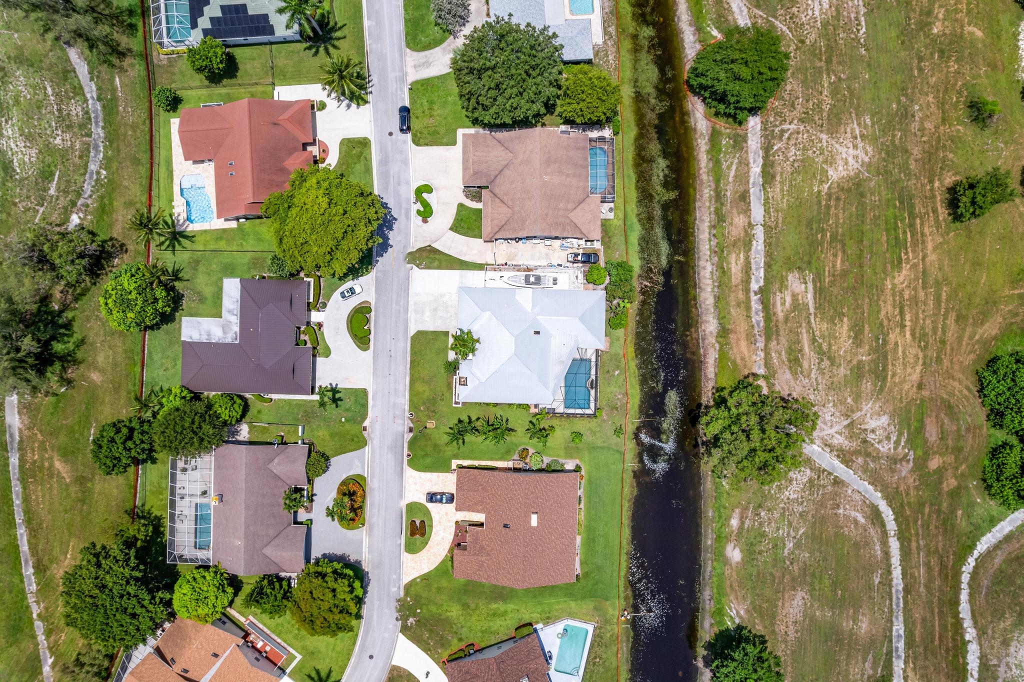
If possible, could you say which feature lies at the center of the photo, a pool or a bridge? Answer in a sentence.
Visible at the center of the photo is a pool.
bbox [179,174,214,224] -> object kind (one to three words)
swimming pool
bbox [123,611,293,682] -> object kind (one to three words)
house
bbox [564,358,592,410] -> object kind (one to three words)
swimming pool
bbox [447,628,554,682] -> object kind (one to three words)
house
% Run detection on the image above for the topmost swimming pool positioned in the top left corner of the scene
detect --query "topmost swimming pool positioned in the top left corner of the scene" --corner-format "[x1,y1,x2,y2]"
[165,0,191,43]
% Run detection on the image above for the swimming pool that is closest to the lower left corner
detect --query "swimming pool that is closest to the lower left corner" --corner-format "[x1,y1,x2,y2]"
[194,502,212,550]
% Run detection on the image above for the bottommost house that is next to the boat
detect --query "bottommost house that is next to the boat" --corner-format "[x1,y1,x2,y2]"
[457,286,606,404]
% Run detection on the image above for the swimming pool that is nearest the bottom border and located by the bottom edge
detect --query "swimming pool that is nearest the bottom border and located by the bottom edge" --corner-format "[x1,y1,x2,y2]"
[552,622,590,677]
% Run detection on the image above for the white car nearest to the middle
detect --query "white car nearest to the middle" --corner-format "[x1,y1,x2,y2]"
[337,283,365,301]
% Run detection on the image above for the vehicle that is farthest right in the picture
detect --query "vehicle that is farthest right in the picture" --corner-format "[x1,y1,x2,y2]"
[567,251,599,265]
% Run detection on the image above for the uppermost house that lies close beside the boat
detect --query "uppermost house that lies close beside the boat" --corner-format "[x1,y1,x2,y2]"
[462,128,601,241]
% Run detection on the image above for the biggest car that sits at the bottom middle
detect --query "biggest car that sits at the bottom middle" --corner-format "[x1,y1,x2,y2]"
[426,491,454,505]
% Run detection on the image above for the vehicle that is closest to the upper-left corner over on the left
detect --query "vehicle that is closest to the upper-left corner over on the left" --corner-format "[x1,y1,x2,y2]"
[397,105,411,134]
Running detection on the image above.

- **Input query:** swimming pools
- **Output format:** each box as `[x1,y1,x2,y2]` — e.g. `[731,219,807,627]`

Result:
[179,174,214,224]
[552,622,590,677]
[590,145,609,195]
[564,358,592,410]
[165,0,191,43]
[194,502,212,550]
[569,0,595,15]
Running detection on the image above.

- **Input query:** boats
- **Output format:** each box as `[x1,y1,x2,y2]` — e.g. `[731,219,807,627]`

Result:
[486,272,562,289]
